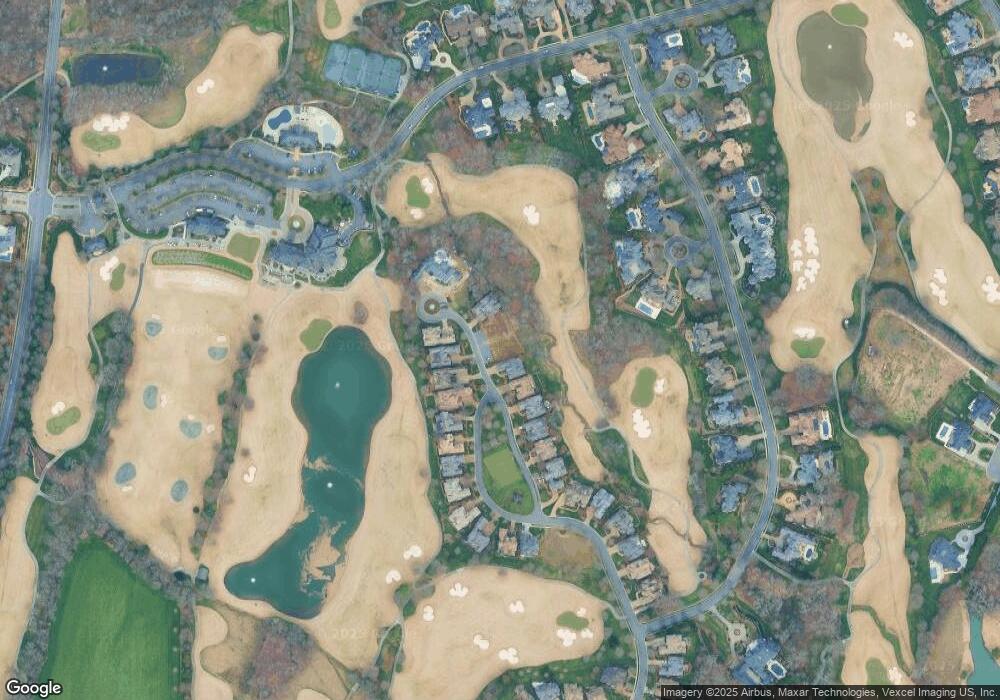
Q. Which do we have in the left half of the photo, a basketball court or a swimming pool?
swimming pool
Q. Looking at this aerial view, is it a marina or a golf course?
golf course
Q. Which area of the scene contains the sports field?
bottom left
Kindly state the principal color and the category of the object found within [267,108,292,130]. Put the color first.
blue swimming pool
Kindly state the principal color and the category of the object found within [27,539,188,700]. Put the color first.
green sports field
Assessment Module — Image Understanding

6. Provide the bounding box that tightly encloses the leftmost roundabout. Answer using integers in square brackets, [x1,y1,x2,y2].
[278,206,313,240]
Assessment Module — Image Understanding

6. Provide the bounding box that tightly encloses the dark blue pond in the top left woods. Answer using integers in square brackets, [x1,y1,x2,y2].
[73,54,160,83]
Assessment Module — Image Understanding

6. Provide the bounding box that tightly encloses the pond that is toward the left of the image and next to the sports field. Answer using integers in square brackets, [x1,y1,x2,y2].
[226,327,391,618]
